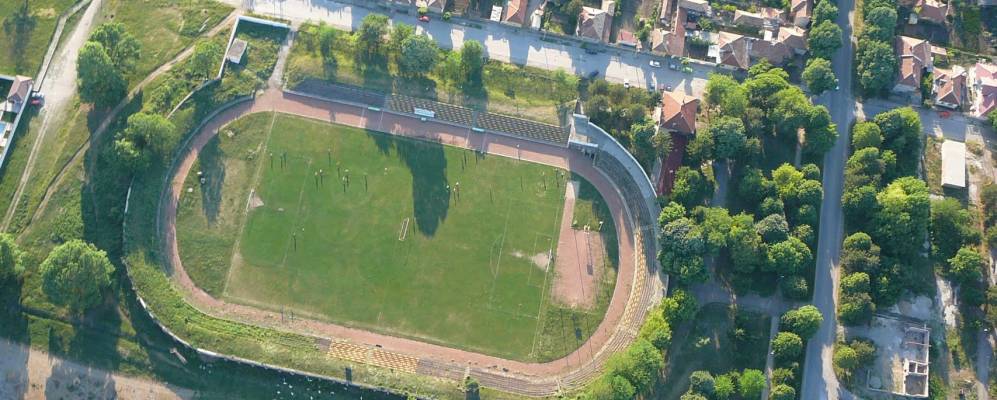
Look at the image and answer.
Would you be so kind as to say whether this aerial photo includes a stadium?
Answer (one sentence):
Yes, the picture does show a stadium.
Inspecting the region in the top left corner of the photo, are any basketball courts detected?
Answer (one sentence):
No, no basketball court appears in the top left corner of the photo.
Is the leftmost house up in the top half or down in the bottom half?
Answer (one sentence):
The leftmost house sits in the top half of the picture.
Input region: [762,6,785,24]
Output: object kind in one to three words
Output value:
house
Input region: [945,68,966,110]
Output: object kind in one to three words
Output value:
house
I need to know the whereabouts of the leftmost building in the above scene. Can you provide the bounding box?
[7,75,34,105]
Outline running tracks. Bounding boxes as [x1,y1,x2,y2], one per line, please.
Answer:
[156,91,629,381]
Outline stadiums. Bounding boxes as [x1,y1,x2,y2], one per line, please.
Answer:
[283,77,667,397]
